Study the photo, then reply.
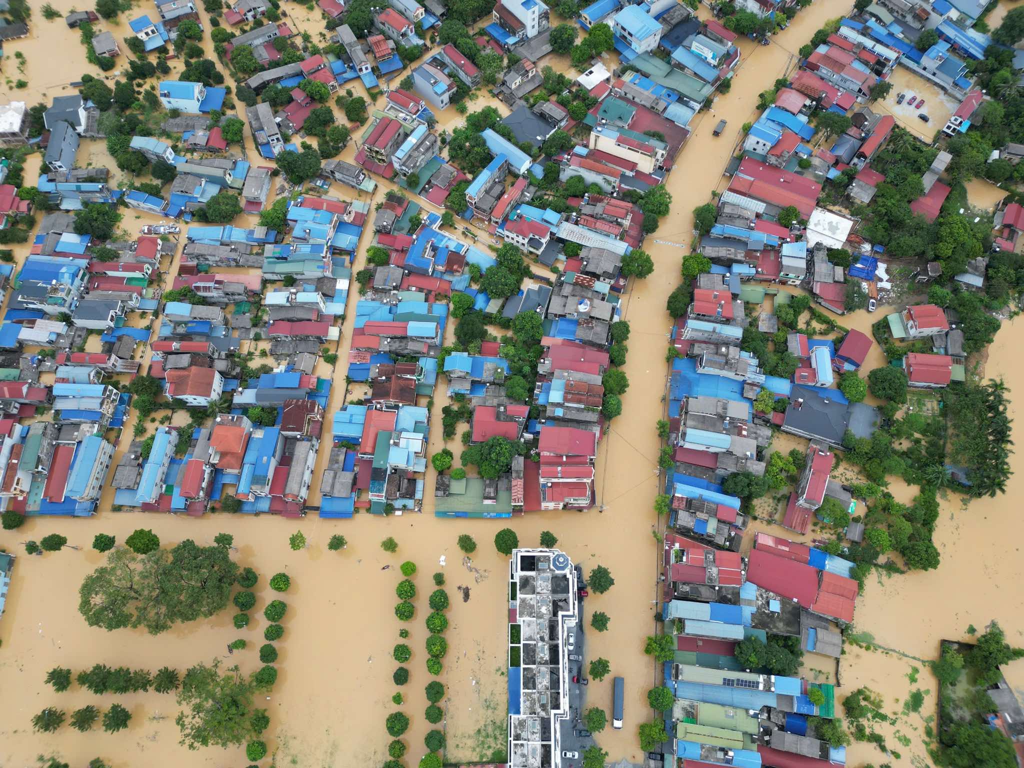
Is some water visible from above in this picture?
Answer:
Yes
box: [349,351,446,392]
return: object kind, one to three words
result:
house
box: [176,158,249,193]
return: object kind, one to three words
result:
house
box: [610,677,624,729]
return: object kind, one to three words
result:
vehicle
